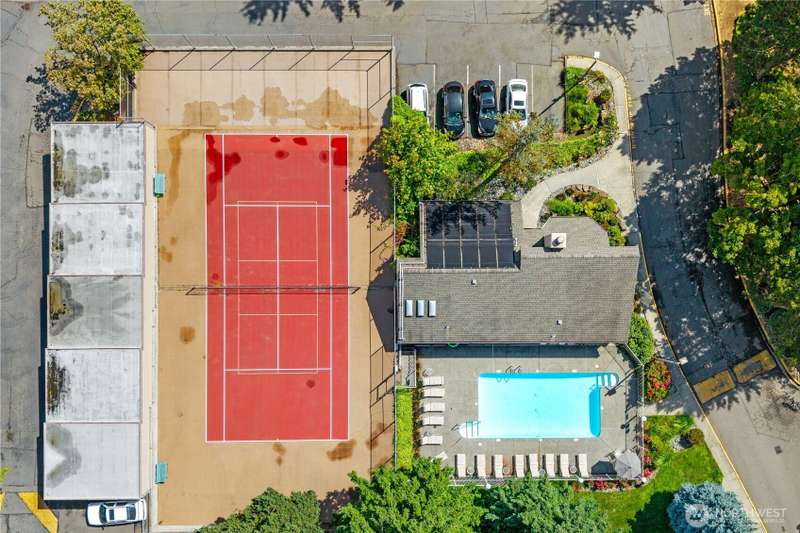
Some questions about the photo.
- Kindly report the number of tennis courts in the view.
1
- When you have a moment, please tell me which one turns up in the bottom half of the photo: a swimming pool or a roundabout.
swimming pool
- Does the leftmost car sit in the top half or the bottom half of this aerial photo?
bottom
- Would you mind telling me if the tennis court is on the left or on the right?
left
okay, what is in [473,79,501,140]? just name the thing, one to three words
car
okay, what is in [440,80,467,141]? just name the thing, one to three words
car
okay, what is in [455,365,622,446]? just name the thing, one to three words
swimming pool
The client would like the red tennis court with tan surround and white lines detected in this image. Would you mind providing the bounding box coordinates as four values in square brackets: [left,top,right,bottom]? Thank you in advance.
[133,50,392,525]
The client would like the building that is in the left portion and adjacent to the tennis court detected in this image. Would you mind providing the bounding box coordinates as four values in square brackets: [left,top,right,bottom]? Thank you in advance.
[43,120,155,500]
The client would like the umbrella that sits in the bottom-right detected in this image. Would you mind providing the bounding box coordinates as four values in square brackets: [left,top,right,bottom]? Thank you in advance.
[614,450,642,478]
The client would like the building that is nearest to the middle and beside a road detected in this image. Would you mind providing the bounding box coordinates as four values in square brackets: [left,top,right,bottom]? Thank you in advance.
[400,201,640,347]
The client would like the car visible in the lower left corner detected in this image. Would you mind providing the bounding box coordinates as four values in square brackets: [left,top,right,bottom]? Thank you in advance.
[88,499,149,528]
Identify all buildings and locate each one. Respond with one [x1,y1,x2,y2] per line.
[43,120,155,500]
[400,201,640,347]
